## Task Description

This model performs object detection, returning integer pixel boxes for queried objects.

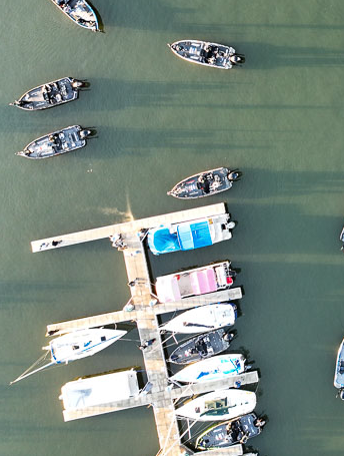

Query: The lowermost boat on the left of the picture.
[52,370,140,411]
